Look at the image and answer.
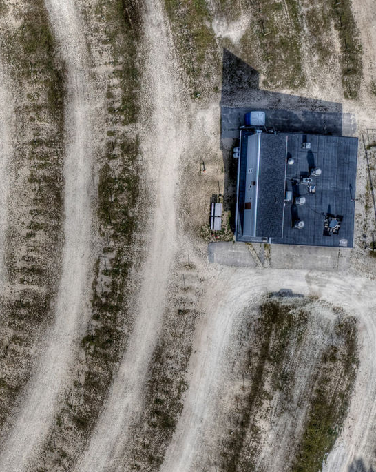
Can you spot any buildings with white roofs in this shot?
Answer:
No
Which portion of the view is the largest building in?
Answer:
right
